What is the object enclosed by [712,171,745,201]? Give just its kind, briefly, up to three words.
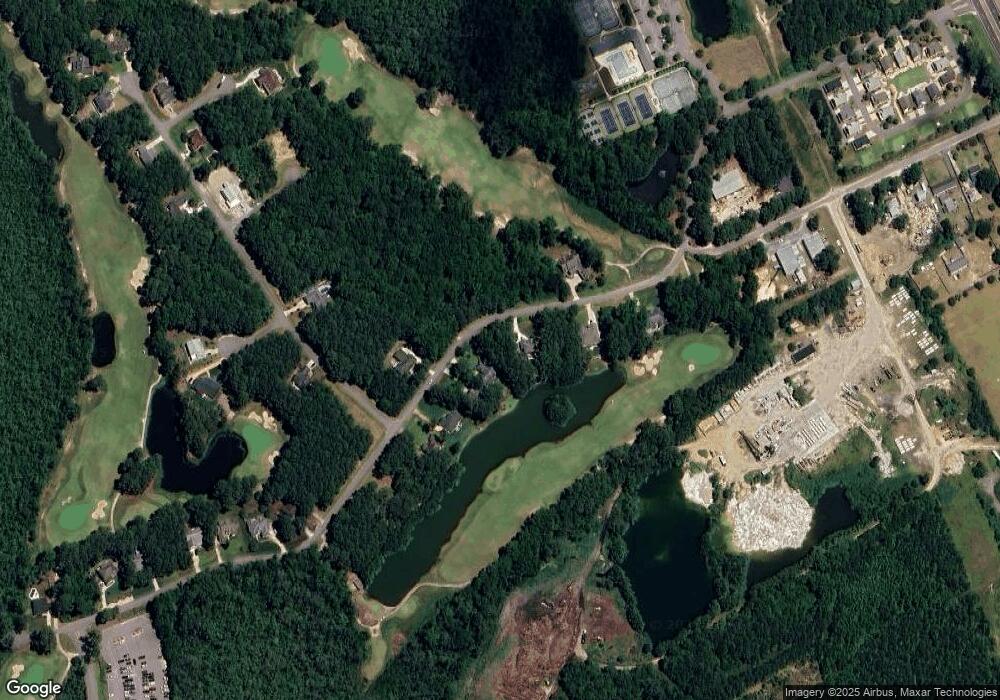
building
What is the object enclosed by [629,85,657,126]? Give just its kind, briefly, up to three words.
sports court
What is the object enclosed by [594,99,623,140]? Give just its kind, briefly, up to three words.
sports court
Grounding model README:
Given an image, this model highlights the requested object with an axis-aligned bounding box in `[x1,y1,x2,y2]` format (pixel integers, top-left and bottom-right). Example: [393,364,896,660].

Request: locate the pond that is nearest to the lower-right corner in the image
[743,485,856,589]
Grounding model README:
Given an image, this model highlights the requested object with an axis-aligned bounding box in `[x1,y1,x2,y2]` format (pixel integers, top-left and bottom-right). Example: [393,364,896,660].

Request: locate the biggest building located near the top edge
[591,28,655,73]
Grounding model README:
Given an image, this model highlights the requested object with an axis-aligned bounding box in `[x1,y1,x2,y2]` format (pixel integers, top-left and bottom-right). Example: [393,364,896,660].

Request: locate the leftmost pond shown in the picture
[10,73,62,159]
